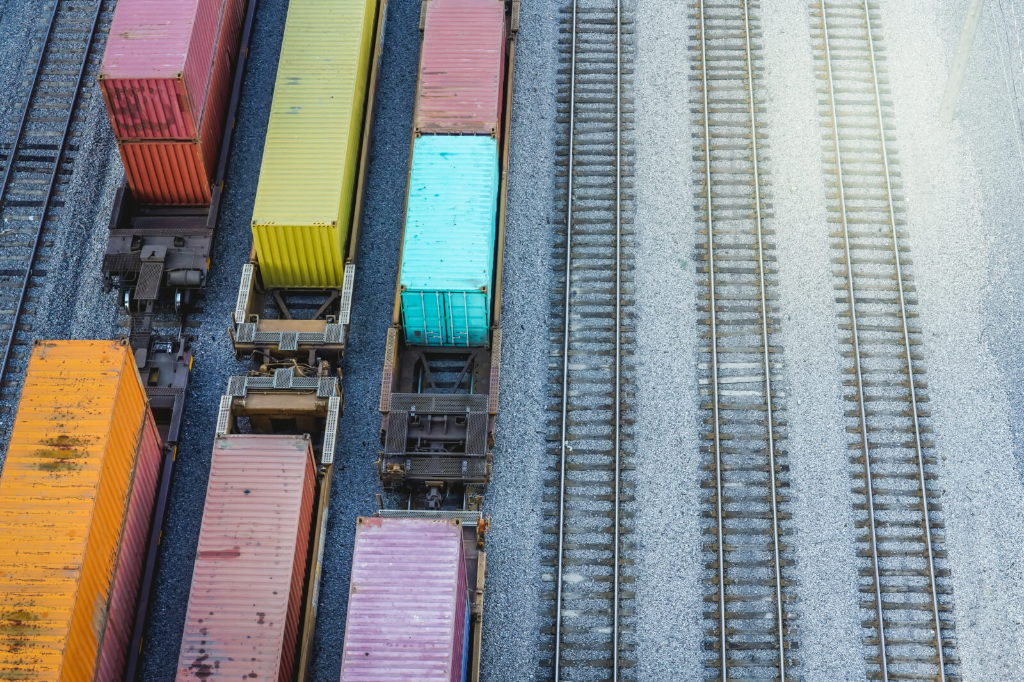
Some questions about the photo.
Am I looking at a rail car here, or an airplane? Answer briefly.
rail car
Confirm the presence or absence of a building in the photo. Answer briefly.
No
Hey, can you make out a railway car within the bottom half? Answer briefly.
Yes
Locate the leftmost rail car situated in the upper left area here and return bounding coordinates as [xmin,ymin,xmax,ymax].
[98,0,263,330]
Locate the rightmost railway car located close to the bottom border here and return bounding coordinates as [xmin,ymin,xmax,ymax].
[371,497,494,682]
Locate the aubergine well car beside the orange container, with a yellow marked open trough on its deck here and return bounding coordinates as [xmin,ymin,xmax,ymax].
[122,314,195,682]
